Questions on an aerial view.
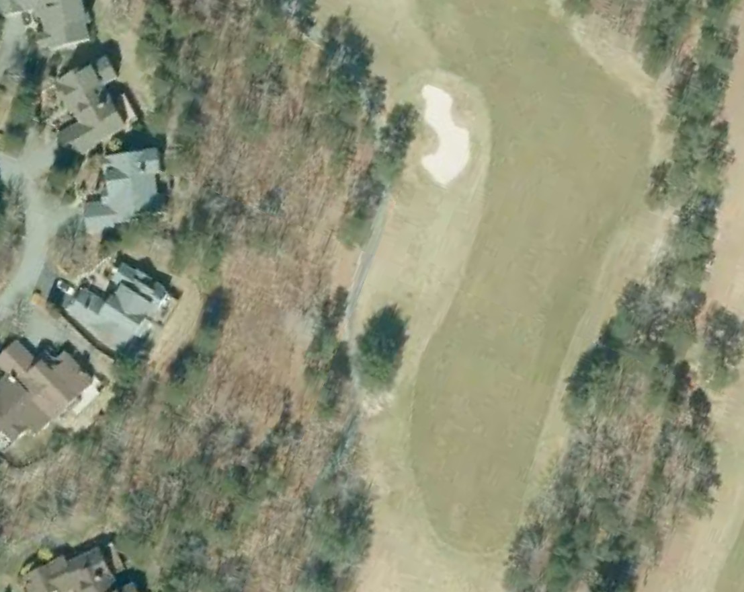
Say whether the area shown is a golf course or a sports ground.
golf course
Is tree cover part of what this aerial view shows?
Yes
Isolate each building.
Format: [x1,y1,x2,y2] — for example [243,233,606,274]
[68,262,174,347]
[0,0,90,49]
[0,334,103,449]
[20,543,124,592]
[42,55,138,157]
[82,146,165,238]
